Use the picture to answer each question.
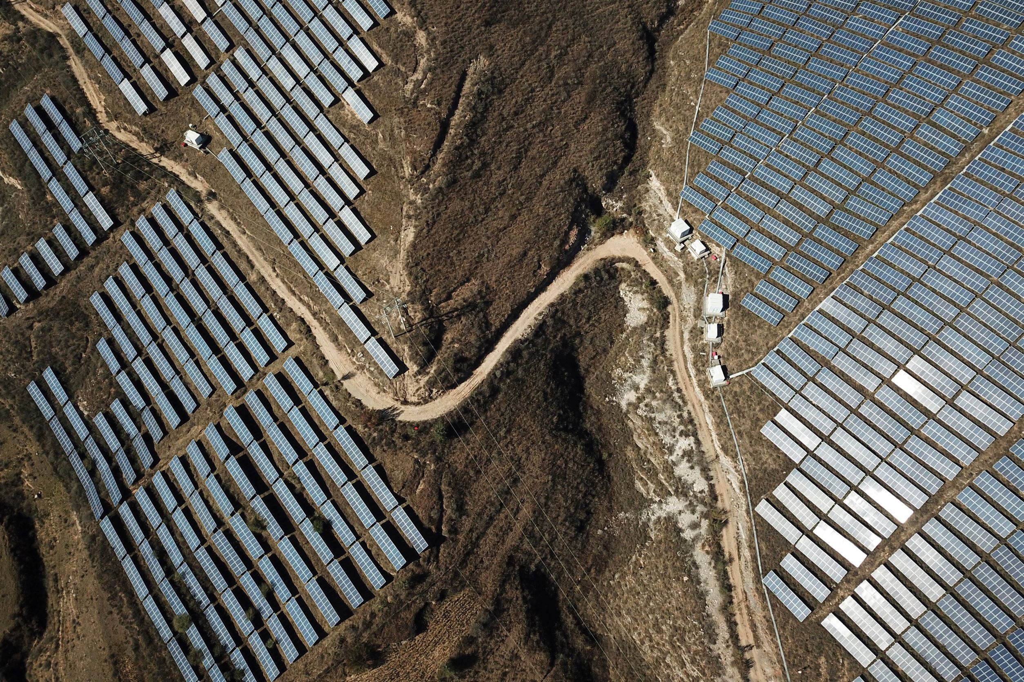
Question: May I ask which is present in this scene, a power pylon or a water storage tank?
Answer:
power pylon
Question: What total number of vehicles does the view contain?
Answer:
0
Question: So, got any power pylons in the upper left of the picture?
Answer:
Yes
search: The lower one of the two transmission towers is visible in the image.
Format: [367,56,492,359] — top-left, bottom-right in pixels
[378,298,406,338]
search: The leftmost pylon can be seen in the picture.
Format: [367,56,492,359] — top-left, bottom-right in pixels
[78,128,117,172]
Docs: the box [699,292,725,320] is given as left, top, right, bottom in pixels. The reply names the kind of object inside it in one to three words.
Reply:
building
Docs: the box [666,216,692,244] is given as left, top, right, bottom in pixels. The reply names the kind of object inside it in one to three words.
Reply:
building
